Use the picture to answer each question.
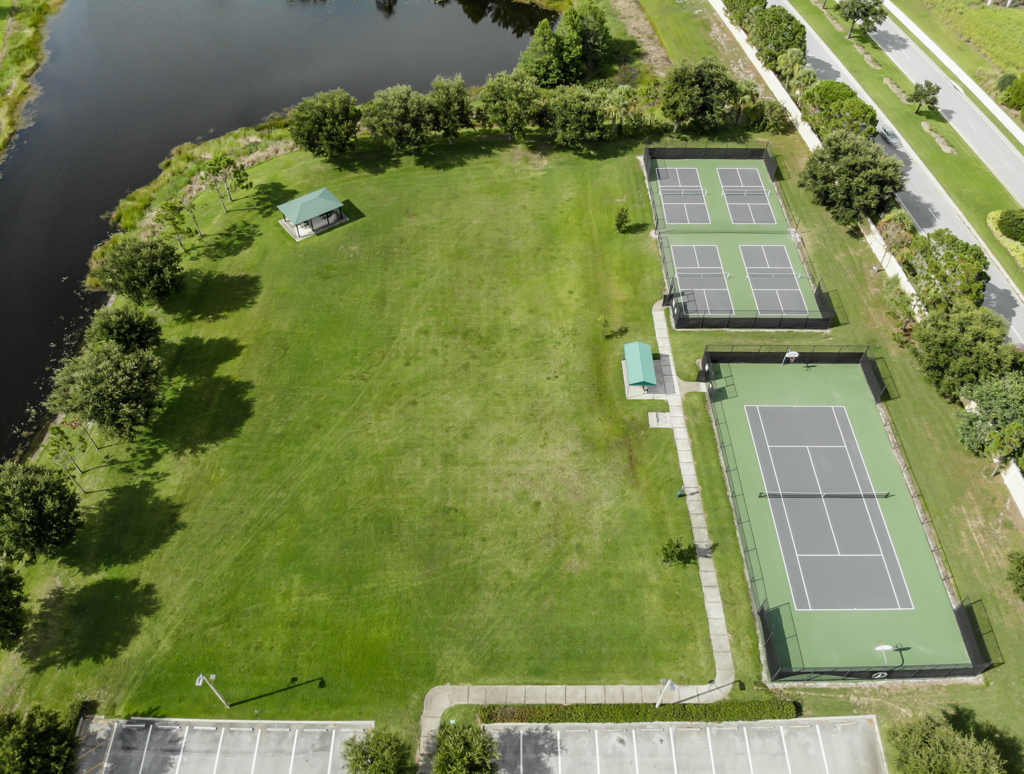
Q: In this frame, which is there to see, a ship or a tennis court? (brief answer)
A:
tennis court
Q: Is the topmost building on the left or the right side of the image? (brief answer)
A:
left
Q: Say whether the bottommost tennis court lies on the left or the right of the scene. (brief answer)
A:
right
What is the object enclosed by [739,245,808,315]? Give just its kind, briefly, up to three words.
sports court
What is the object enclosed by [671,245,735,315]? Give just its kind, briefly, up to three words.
sports court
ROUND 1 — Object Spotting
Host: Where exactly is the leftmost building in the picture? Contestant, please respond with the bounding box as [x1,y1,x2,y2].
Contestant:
[277,187,349,241]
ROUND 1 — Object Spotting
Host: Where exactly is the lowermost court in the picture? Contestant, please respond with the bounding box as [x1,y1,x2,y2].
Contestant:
[703,363,985,684]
